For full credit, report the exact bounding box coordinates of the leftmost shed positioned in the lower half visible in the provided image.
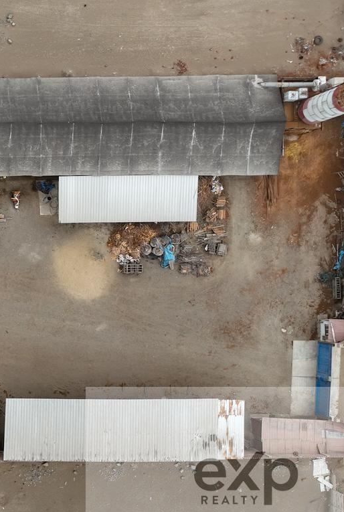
[1,398,245,462]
